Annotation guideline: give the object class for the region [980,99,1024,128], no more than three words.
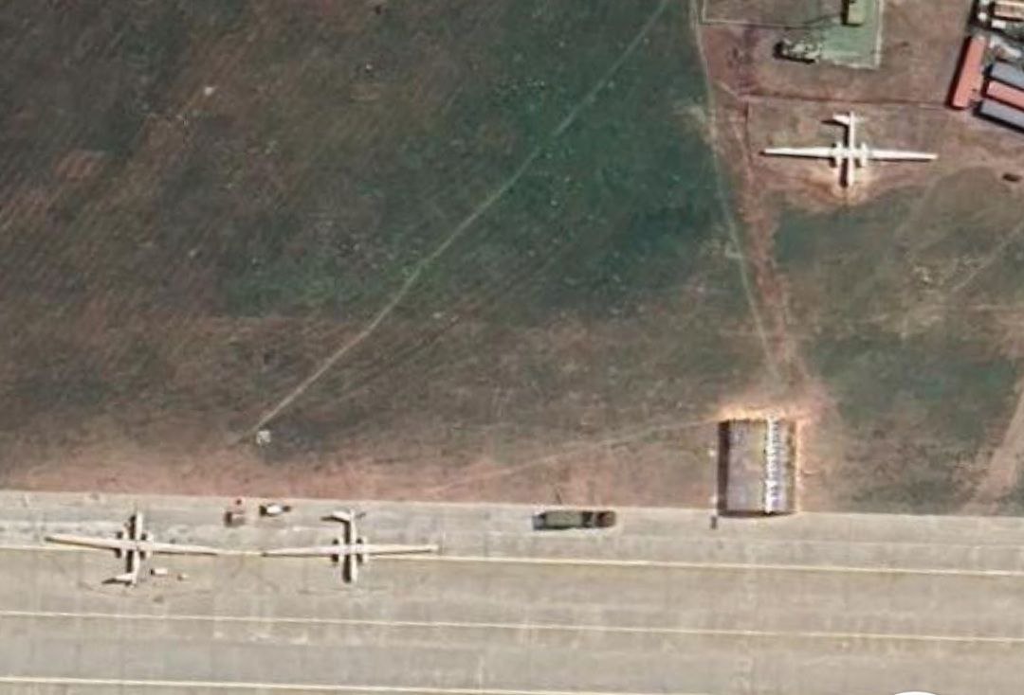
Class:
building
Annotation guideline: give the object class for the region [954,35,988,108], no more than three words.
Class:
building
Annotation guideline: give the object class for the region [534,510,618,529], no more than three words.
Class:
vehicle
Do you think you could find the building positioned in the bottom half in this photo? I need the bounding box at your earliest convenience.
[728,419,797,513]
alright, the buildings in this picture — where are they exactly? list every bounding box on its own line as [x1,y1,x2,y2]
[728,419,797,513]
[991,62,1024,85]
[994,0,1024,17]
[954,35,988,108]
[987,80,1024,104]
[980,99,1024,128]
[850,0,866,23]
